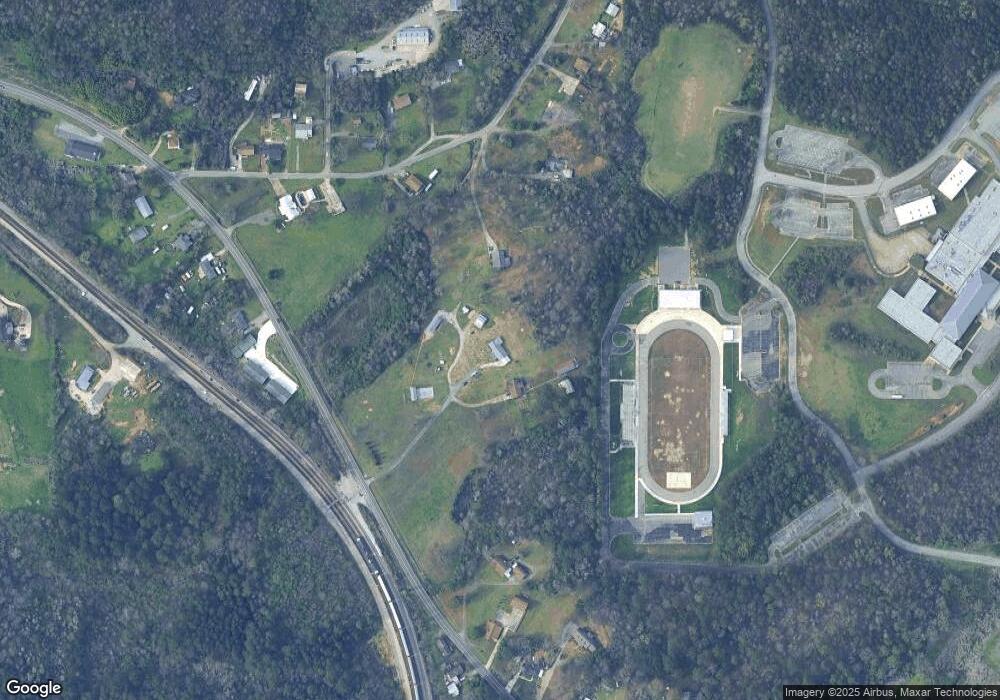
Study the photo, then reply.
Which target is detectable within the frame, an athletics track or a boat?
athletics track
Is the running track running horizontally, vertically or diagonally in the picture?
vertically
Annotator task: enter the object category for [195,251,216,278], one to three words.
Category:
house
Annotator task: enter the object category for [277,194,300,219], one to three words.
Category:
house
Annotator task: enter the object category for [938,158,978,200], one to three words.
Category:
building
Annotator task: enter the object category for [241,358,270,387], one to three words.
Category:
building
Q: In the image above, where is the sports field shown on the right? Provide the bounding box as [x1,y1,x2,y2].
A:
[648,329,711,491]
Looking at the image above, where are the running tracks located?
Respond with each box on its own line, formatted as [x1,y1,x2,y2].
[639,319,721,501]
